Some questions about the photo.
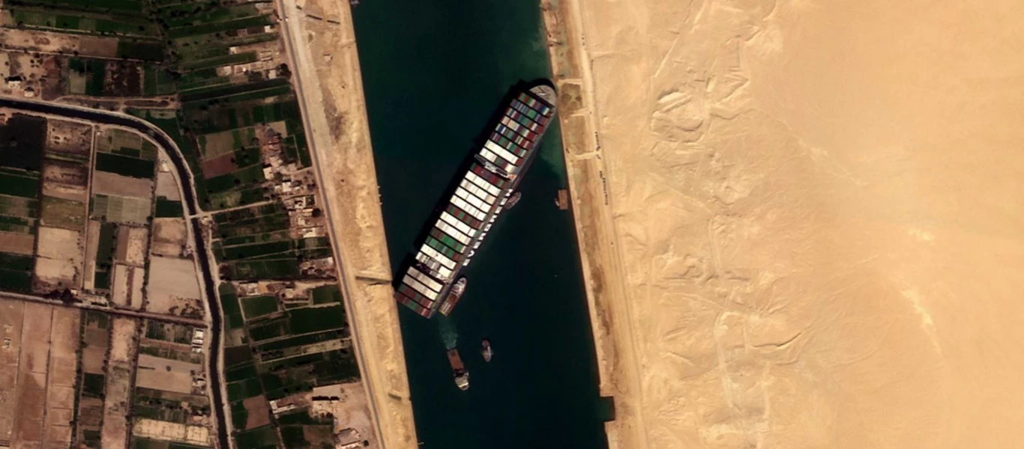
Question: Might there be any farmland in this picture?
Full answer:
Yes, some farmland is visible.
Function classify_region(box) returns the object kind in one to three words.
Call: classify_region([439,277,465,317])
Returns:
ship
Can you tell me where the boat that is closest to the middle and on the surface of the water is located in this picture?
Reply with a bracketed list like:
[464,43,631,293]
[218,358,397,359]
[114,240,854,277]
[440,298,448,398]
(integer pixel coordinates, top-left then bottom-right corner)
[505,192,521,210]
